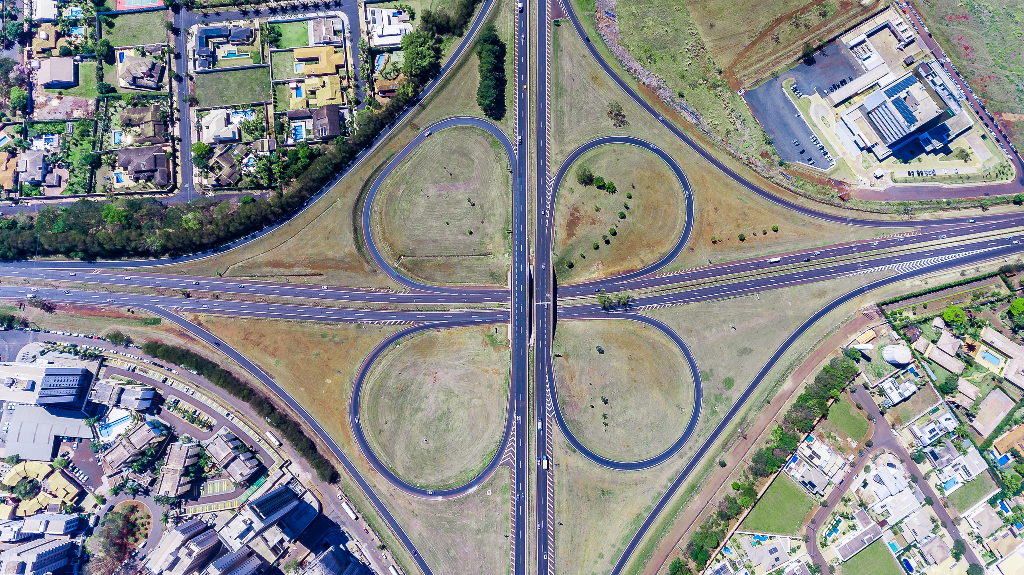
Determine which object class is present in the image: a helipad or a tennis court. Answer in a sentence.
It is a tennis court that can be seen here.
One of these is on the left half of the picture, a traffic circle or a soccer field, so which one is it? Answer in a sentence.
It is a traffic circle that can be seen on the left half of the picture.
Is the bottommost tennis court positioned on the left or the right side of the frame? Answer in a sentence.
The bottommost tennis court sits on the right side.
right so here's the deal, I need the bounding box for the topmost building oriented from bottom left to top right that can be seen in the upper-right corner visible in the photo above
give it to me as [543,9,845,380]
[836,6,897,48]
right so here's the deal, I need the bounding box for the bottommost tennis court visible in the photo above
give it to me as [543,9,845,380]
[967,389,1015,439]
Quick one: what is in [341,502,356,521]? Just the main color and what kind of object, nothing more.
white vehicle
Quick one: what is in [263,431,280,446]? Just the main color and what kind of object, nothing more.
white vehicle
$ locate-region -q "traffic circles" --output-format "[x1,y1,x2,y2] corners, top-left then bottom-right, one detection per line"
[90,487,164,574]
